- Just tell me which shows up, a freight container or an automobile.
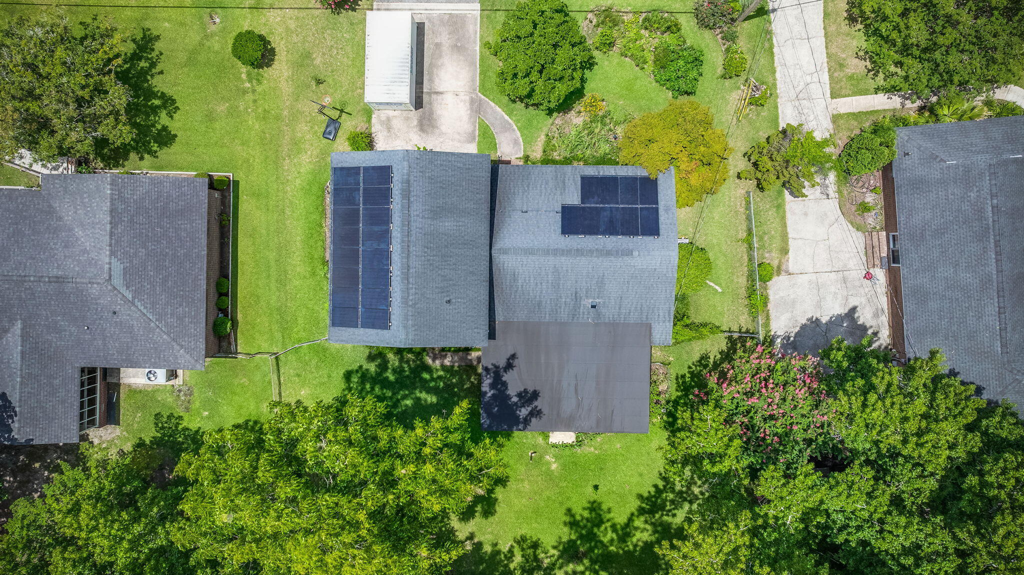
freight container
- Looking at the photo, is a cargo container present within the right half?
No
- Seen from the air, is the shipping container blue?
No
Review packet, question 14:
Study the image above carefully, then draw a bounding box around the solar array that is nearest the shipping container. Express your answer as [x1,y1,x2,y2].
[331,165,393,329]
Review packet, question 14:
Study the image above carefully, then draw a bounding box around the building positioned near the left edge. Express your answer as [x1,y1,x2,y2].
[0,173,221,446]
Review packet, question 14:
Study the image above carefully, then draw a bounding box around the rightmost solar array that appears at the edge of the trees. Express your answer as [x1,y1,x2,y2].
[561,176,659,238]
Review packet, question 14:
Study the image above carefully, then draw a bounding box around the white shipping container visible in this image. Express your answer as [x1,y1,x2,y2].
[365,11,418,112]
